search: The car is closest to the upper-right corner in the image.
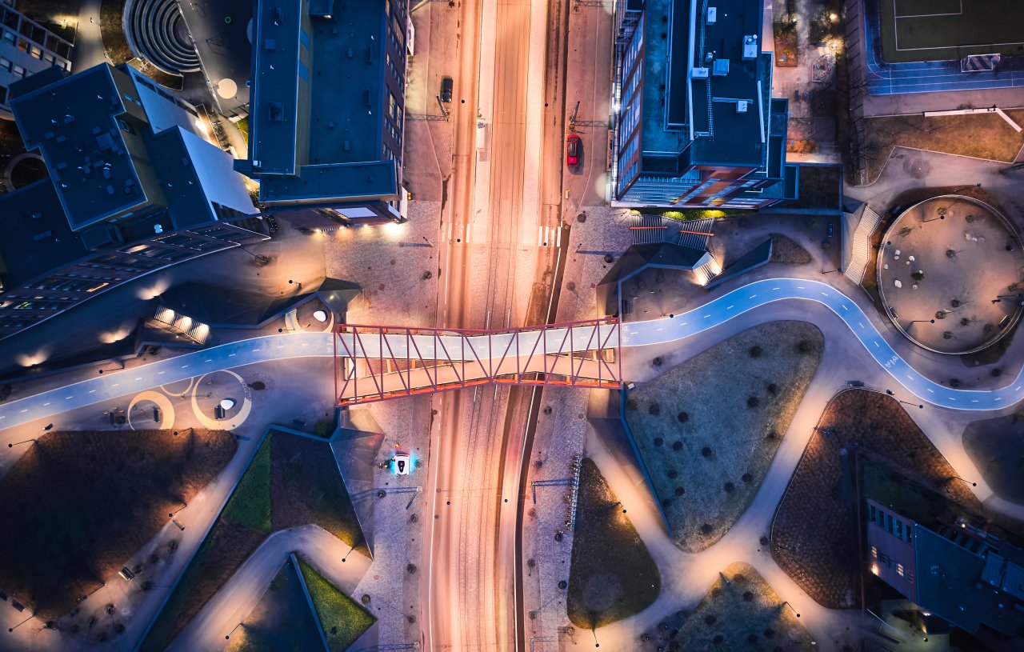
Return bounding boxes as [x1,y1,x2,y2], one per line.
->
[567,137,579,163]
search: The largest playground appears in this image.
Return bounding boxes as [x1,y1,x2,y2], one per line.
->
[884,200,1021,349]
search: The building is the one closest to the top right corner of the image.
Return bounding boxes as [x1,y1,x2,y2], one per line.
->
[601,0,798,210]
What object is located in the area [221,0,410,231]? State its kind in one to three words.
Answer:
building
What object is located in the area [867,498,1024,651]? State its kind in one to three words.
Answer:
building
